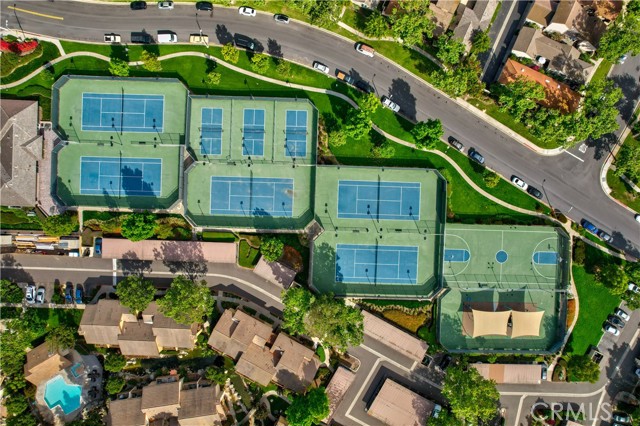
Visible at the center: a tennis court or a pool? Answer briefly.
tennis court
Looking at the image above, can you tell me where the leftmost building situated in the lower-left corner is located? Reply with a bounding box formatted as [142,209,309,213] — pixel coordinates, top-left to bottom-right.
[27,343,76,386]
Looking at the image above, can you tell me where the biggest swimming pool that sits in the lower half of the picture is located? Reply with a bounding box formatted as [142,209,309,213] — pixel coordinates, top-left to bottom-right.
[44,374,81,415]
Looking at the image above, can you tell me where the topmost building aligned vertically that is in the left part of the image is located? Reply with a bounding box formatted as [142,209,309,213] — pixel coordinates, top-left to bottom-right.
[0,99,46,206]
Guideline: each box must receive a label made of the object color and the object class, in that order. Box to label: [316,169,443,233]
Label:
green tennis court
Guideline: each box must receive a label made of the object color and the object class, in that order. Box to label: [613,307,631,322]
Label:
white car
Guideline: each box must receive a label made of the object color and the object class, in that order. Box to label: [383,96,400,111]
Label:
white car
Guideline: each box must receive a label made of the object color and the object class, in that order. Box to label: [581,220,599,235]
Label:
blue car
